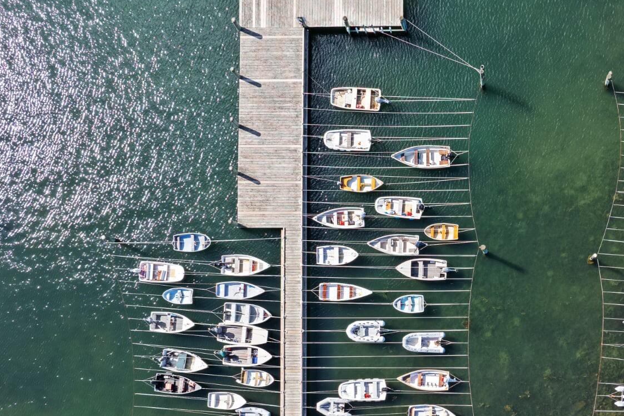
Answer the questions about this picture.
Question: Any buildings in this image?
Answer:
No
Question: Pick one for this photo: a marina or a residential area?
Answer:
marina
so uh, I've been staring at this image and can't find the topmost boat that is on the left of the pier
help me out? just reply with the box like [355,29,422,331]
[174,233,211,252]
